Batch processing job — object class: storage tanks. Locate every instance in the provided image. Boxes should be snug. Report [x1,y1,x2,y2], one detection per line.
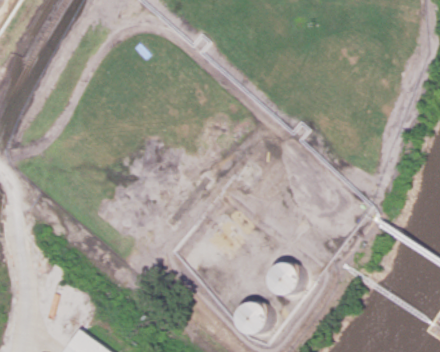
[234,297,278,336]
[266,258,310,298]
